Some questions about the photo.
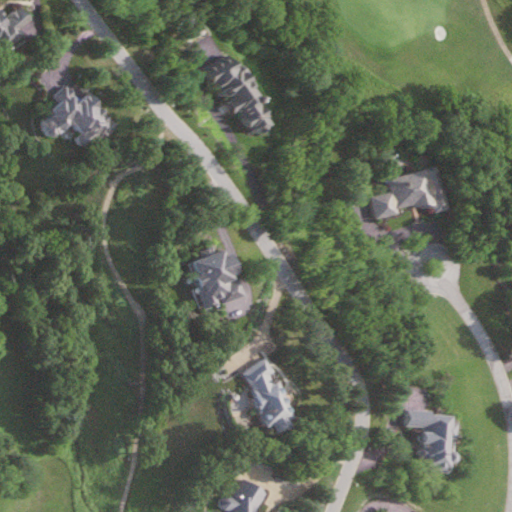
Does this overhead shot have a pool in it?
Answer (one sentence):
No, there is no pool in the image.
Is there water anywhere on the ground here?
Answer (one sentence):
No, there is no water in the image.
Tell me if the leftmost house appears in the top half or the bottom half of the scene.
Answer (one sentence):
Seen from above, the leftmost house lies in the top half of the view.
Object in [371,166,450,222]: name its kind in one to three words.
house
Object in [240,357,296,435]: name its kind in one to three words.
house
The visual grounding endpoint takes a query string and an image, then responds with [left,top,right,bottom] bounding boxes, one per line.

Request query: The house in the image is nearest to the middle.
[190,244,248,308]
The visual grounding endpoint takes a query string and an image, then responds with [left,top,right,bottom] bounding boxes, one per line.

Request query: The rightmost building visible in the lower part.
[402,411,460,473]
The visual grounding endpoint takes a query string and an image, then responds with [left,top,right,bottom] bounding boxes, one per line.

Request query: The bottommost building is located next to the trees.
[218,474,272,512]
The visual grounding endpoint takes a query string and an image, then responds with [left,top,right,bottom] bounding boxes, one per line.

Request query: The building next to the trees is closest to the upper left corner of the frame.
[0,6,35,39]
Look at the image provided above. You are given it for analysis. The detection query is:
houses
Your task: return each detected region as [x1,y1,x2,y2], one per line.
[371,166,450,222]
[190,244,248,308]
[402,411,460,473]
[40,85,110,148]
[0,6,35,39]
[240,357,296,435]
[218,474,272,512]
[204,54,276,138]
